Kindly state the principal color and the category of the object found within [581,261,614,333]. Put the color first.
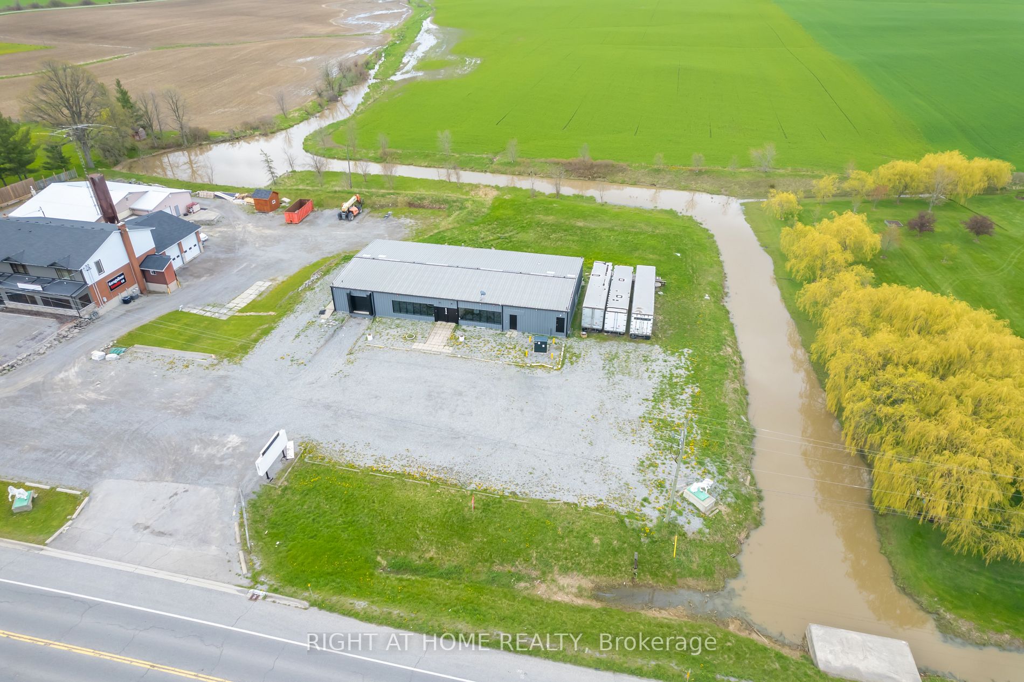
white trailer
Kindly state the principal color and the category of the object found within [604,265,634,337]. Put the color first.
white trailer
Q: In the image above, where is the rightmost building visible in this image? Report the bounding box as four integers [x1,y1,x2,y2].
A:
[328,239,585,338]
